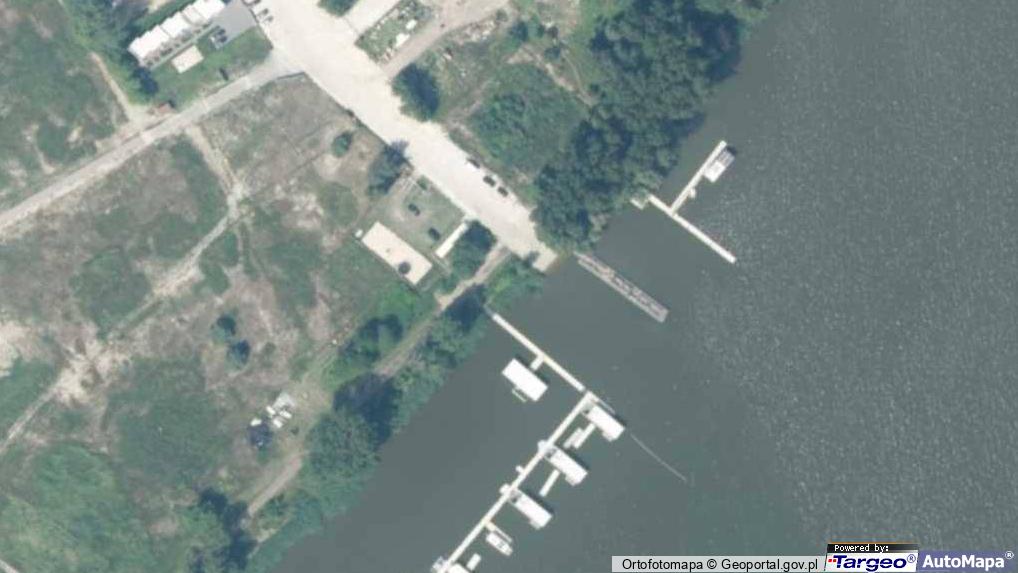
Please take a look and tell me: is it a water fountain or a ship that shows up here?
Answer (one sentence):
It is a ship that can be seen here.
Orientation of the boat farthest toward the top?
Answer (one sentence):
In this picture, the boat farthest toward the top lies diagonally.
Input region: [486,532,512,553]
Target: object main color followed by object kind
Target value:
white boat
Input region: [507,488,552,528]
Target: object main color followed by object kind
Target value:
white boat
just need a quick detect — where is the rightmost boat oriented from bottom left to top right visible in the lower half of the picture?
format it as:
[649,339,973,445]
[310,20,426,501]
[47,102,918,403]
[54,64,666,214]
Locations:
[564,429,582,449]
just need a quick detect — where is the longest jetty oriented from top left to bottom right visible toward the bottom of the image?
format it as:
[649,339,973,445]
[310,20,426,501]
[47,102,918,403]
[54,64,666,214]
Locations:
[493,314,585,391]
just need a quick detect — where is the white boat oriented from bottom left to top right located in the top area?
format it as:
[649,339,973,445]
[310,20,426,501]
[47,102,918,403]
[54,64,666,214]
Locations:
[704,149,735,182]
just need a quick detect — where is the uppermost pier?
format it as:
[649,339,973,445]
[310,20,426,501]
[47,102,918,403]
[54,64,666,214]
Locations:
[672,142,725,212]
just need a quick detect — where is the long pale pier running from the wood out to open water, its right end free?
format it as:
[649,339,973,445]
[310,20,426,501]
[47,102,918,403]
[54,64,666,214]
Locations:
[649,195,735,263]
